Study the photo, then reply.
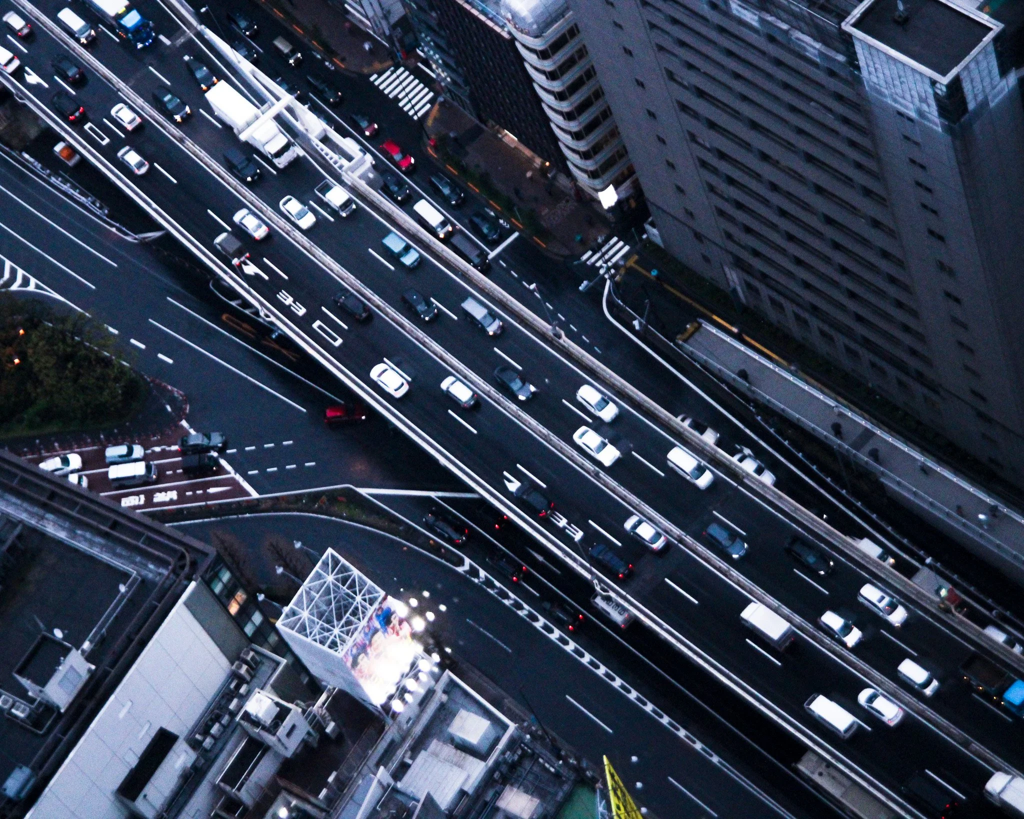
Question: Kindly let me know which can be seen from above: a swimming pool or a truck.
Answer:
truck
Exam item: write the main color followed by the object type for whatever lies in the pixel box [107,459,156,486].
white vehicle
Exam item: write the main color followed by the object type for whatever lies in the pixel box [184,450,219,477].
black truck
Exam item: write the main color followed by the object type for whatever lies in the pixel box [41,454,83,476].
white car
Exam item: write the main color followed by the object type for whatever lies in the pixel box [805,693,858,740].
white van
